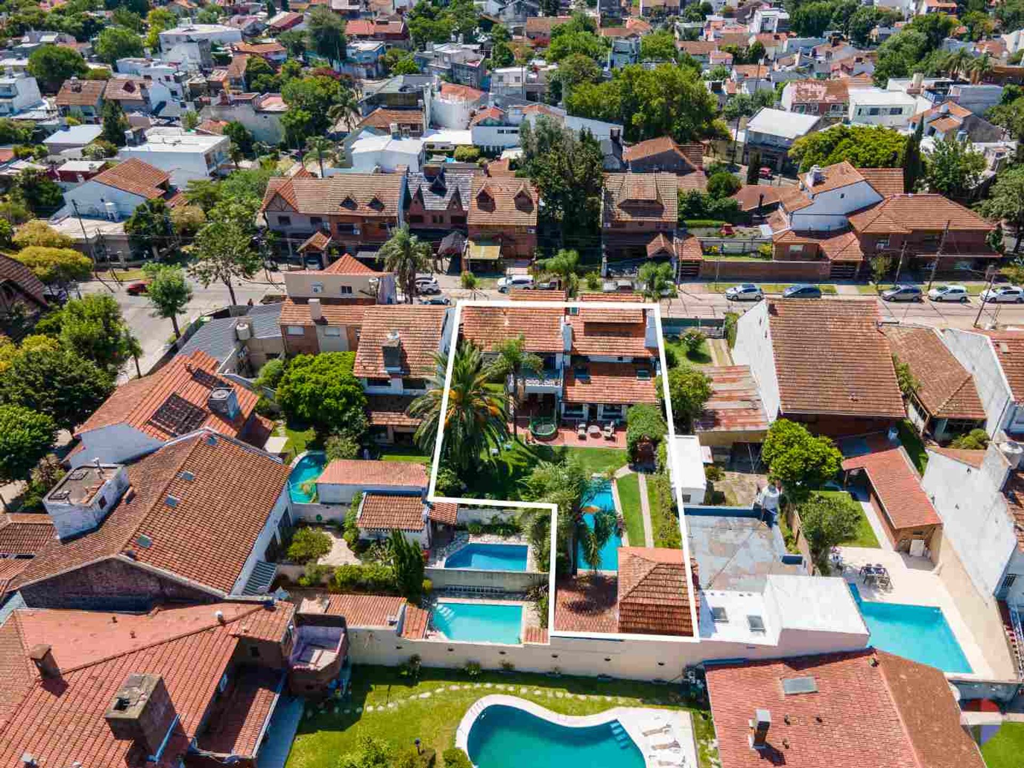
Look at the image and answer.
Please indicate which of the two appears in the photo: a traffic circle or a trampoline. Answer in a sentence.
The one in the frame is a trampoline.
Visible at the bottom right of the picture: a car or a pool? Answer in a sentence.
There is a pool at the bottom right of the picture.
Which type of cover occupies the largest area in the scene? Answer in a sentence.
Most of the picture is covered by buildings.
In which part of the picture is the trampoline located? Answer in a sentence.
The trampoline is in the center part of the image.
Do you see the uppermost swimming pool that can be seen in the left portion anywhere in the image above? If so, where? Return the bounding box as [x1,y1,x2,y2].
[289,453,326,502]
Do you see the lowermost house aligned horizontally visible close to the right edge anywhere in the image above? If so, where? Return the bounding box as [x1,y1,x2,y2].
[701,647,988,768]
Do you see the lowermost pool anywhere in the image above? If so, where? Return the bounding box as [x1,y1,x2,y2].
[467,705,646,768]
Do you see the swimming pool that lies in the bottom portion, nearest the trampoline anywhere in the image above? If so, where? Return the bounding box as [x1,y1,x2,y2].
[581,479,622,565]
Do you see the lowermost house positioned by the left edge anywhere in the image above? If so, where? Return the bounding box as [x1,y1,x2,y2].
[0,601,296,768]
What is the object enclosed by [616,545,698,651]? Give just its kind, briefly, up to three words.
building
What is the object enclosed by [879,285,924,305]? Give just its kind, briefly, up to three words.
car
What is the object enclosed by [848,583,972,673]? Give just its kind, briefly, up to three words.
swimming pool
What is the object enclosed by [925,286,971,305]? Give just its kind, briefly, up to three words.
car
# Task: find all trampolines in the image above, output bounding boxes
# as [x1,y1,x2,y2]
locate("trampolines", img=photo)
[527,408,557,445]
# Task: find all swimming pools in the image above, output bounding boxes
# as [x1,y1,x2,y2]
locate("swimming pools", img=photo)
[447,543,532,567]
[581,479,622,565]
[848,583,972,673]
[289,453,326,502]
[467,705,646,768]
[430,603,524,642]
